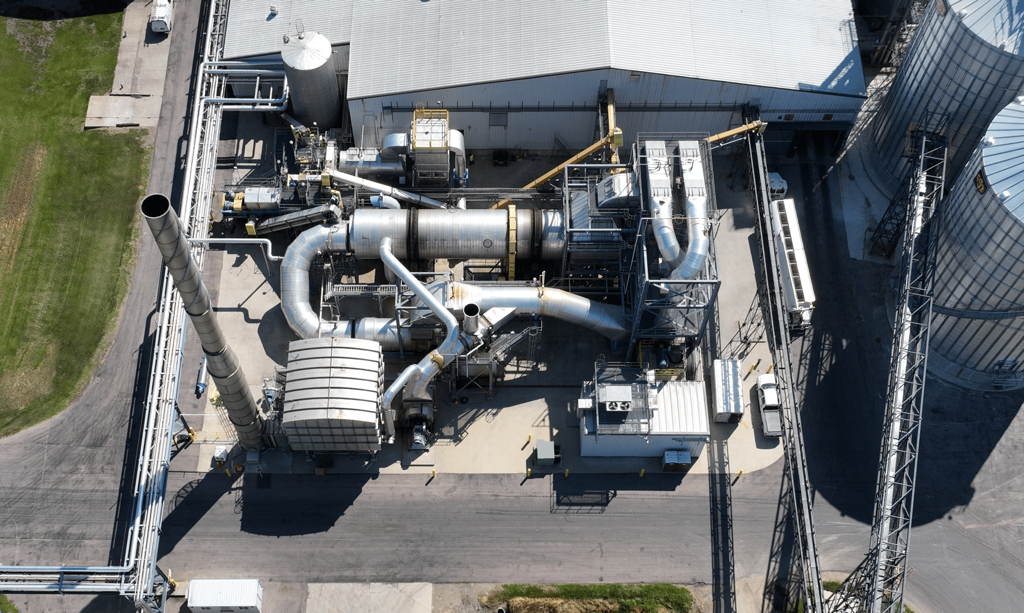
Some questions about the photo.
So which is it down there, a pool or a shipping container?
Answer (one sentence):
It is a shipping container that can be seen here.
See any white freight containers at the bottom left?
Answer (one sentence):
Yes, a white freight container is visible at the bottom left.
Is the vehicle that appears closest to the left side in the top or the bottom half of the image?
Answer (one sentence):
Seen from above, the vehicle that appears closest to the left side lies in the top half of the view.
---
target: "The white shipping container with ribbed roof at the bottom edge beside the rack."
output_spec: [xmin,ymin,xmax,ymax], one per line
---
[181,578,265,613]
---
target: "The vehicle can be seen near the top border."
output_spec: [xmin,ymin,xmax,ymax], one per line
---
[149,0,176,30]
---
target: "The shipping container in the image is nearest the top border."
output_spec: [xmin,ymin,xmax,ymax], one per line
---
[712,360,745,425]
